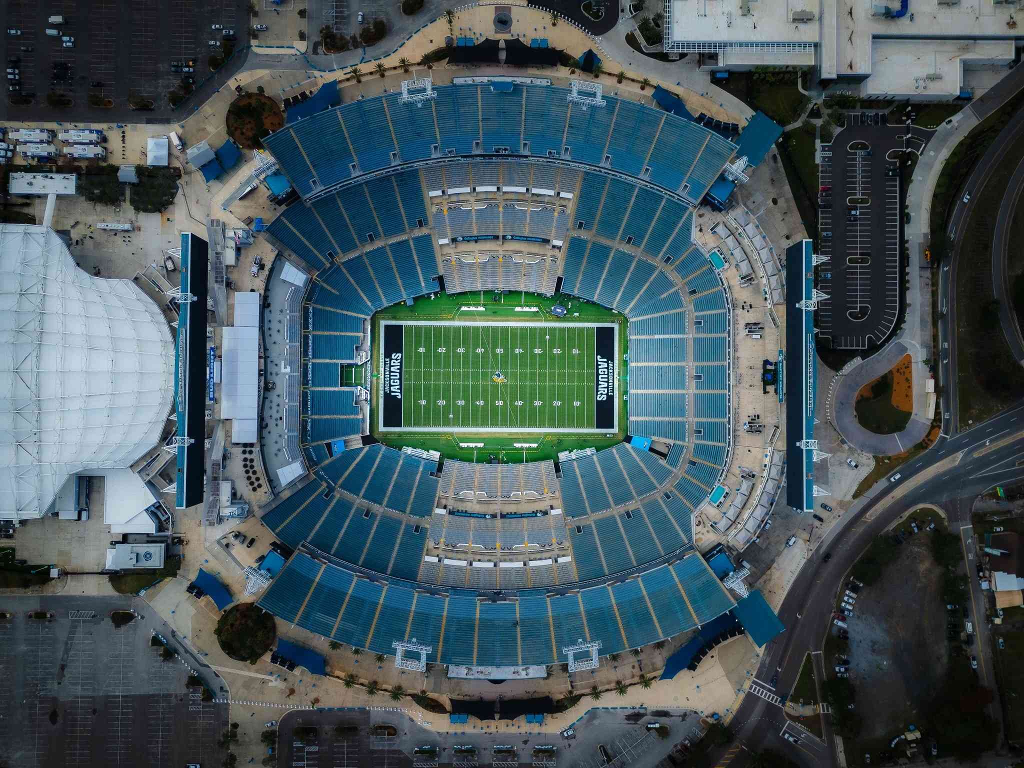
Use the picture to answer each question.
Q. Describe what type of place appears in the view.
sports ground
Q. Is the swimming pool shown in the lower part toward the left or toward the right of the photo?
right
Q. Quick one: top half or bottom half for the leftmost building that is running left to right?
top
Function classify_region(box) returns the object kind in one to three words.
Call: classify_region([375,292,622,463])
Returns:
sports field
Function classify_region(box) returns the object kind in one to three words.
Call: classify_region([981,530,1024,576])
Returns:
house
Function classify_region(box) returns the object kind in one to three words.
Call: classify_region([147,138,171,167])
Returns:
tent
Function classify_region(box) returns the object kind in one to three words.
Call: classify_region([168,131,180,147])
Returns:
vehicle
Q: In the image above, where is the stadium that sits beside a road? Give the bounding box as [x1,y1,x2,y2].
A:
[255,83,787,670]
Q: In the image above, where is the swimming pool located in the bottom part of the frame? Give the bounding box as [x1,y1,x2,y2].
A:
[708,483,729,506]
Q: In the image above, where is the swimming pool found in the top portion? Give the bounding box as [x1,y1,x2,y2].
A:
[709,249,728,272]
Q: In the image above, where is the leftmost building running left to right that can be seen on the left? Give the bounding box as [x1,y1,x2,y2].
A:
[9,173,81,197]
